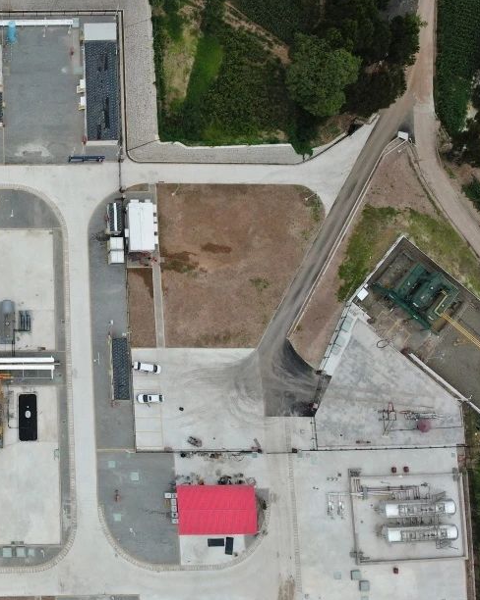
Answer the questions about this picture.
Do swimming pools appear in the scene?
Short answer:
No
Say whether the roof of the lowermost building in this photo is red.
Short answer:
Yes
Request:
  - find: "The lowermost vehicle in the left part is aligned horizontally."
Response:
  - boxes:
[136,392,164,405]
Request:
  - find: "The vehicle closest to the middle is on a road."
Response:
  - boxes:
[135,360,162,375]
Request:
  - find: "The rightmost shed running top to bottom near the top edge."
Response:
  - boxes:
[82,22,121,146]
